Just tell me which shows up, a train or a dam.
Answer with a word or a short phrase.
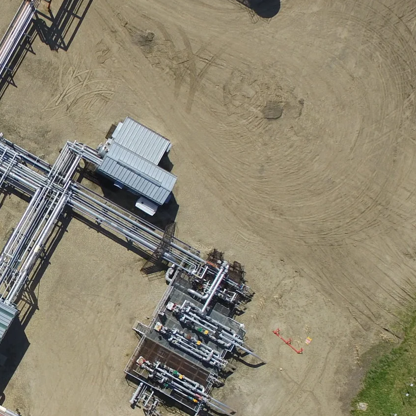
train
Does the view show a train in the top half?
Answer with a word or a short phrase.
No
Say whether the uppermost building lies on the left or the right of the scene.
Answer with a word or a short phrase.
left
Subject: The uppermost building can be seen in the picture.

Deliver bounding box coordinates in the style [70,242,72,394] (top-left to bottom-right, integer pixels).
[100,115,173,164]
